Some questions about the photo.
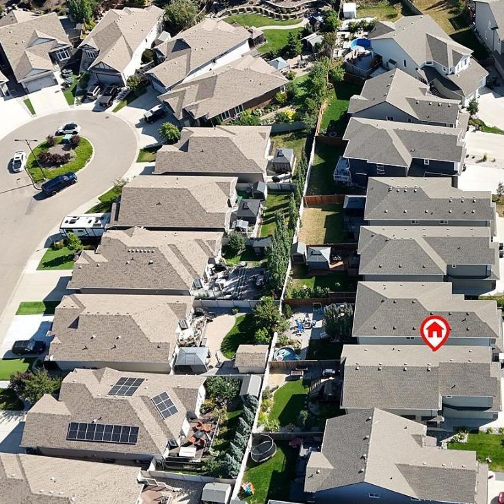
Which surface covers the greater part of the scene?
buildings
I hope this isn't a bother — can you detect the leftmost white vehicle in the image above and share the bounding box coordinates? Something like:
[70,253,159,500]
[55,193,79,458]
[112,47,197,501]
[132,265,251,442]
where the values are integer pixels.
[12,152,28,173]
